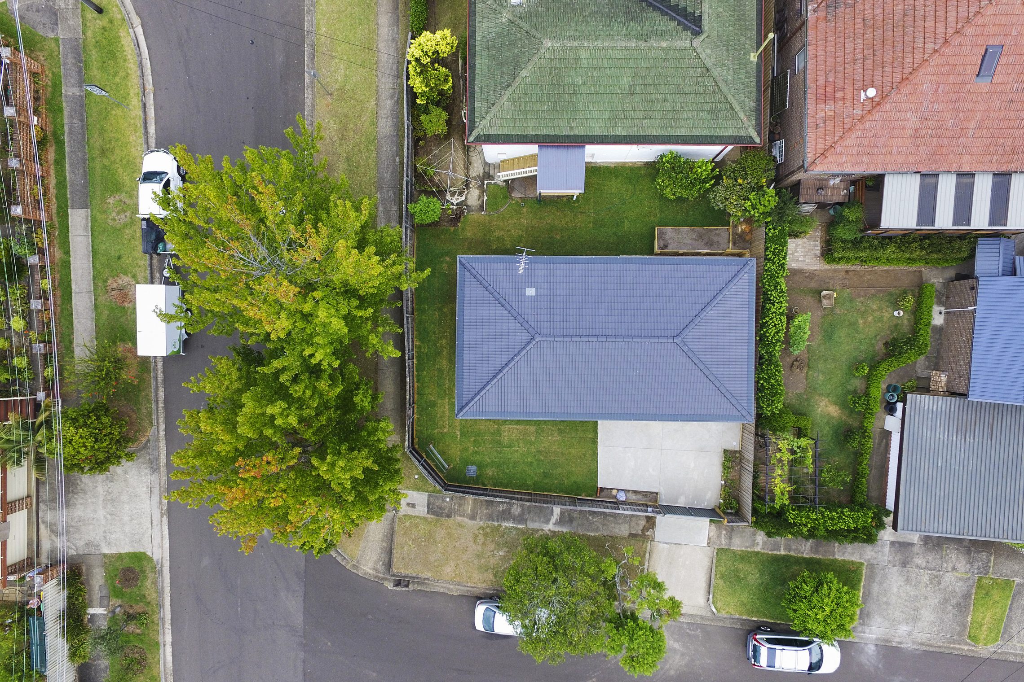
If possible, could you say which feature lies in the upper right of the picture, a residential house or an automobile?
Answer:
residential house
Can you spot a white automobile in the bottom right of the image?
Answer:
Yes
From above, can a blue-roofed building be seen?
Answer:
Yes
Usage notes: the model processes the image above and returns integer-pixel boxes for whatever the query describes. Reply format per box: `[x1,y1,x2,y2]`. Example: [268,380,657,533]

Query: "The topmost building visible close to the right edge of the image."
[776,0,1024,186]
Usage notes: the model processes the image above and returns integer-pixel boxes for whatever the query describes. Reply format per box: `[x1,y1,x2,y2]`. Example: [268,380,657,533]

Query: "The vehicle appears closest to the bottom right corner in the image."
[751,628,837,677]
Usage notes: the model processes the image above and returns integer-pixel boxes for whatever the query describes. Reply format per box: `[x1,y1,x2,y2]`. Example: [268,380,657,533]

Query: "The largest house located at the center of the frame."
[455,255,757,423]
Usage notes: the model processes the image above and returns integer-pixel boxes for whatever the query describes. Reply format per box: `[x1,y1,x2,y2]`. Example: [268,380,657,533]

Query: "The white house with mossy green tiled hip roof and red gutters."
[467,0,776,162]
